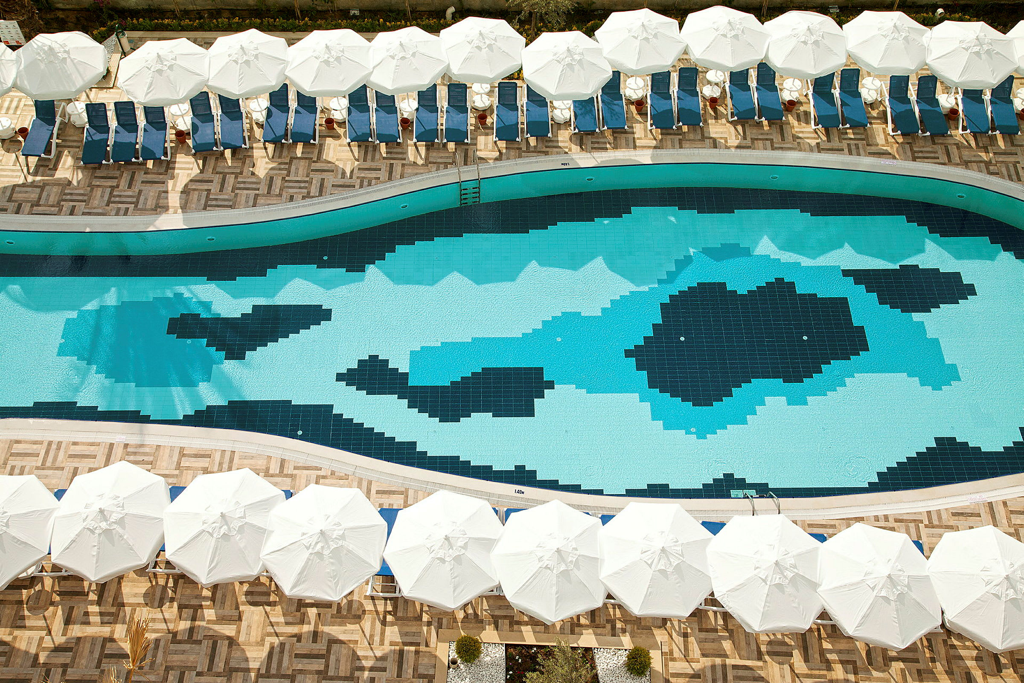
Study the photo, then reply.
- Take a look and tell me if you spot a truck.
No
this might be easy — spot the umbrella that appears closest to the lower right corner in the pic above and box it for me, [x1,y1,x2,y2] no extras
[930,525,1024,649]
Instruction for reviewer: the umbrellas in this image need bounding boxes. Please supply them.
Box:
[762,8,852,104]
[53,462,170,581]
[284,28,370,125]
[680,5,766,101]
[168,466,284,584]
[824,524,940,649]
[607,502,718,616]
[19,31,115,129]
[0,463,67,577]
[265,483,386,600]
[596,8,687,103]
[441,16,525,111]
[712,515,827,632]
[0,43,37,140]
[844,10,933,105]
[928,21,1017,117]
[363,26,449,123]
[203,28,289,126]
[500,498,615,621]
[119,34,208,132]
[930,525,1024,649]
[522,30,612,125]
[383,488,507,609]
